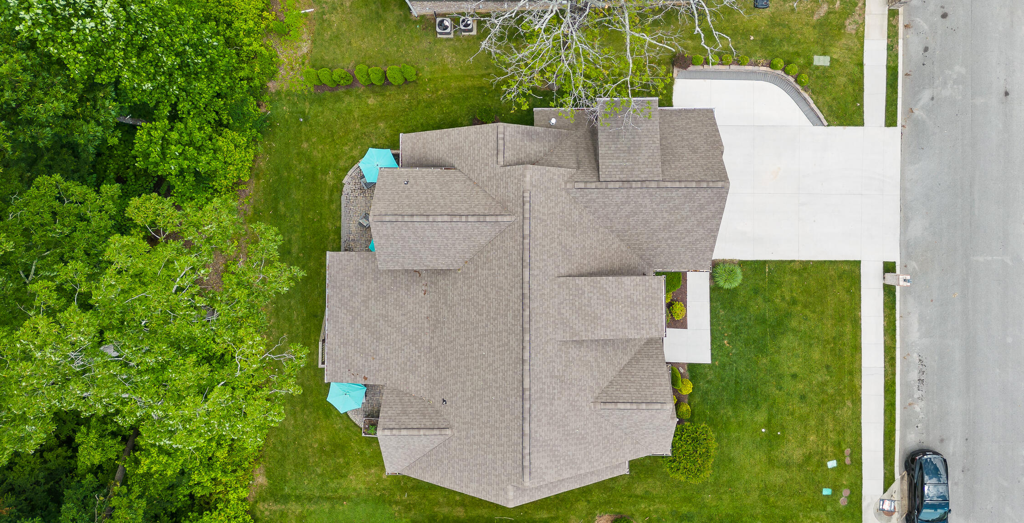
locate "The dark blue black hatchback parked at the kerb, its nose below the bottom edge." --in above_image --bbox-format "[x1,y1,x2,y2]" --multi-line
[904,449,953,523]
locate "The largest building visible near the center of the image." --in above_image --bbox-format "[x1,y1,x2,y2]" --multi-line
[318,96,730,506]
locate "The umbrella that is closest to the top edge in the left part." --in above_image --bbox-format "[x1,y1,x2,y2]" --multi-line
[358,147,399,183]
